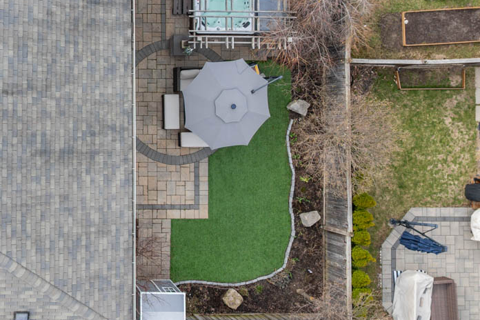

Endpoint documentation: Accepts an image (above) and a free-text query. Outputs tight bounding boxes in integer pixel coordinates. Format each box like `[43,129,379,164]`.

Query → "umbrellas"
[181,59,283,150]
[386,220,448,254]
